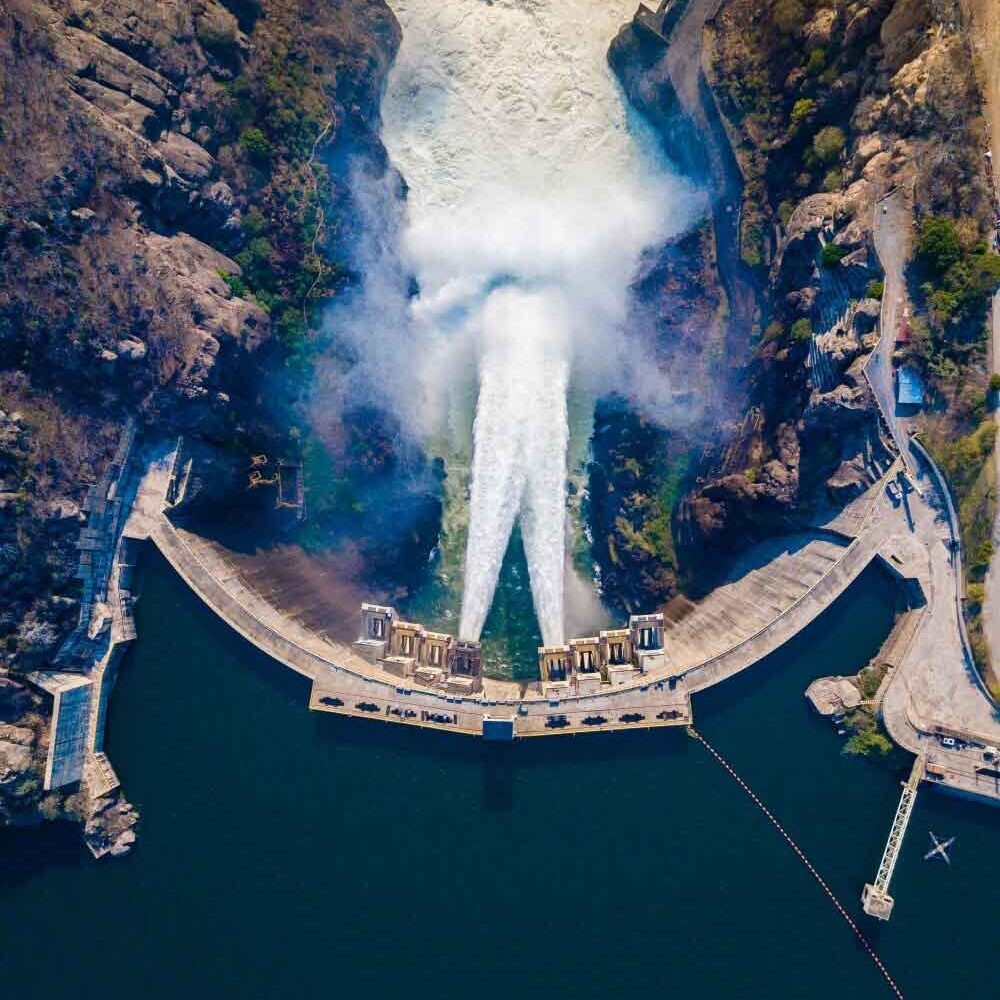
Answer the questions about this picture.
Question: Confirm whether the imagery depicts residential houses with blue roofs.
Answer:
Yes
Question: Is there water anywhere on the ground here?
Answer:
Yes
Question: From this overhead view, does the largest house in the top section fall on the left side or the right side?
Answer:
right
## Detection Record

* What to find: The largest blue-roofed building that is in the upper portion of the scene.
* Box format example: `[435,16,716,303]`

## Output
[893,365,924,404]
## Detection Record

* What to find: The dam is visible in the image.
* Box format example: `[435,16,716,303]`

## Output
[150,500,878,739]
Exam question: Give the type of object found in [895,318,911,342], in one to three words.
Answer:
shed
